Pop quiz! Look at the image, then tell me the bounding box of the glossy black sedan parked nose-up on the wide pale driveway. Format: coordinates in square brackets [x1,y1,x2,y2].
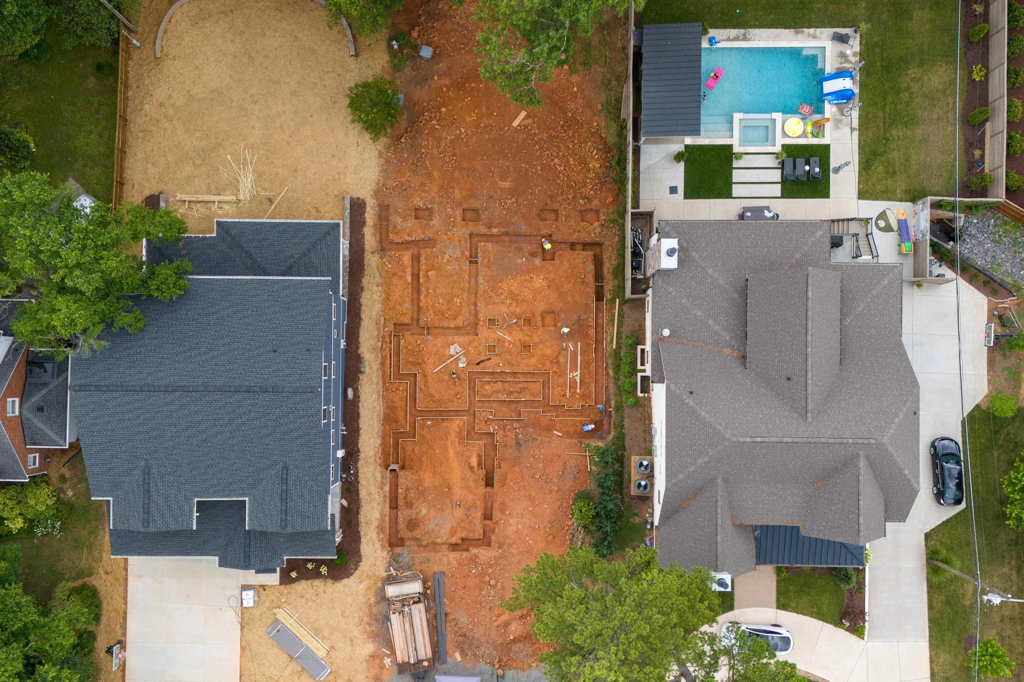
[930,437,966,508]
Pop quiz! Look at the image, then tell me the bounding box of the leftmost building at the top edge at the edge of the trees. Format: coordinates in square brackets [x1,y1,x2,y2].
[635,17,702,147]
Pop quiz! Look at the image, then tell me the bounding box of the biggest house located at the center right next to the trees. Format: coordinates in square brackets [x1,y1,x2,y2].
[642,219,921,595]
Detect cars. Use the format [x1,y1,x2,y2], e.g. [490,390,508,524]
[930,437,966,508]
[722,623,795,659]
